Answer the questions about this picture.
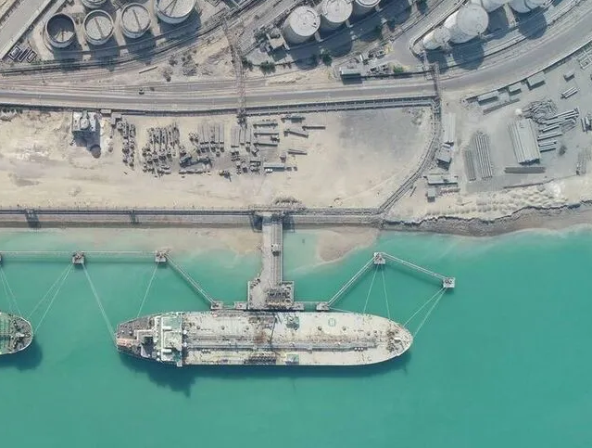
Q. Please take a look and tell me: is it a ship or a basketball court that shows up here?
ship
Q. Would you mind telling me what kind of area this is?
industrial area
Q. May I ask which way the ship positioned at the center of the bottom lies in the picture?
from side to side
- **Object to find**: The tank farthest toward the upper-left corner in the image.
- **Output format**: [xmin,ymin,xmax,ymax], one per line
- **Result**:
[45,12,76,51]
